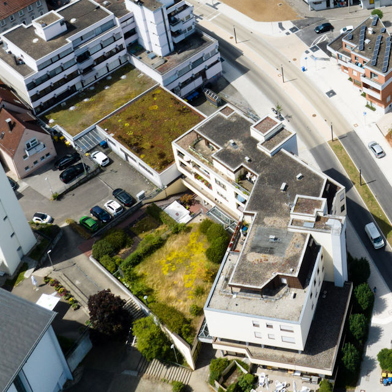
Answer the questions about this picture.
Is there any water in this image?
No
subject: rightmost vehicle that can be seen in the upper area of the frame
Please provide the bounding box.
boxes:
[369,141,384,159]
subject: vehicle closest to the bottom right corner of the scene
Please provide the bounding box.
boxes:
[366,220,384,251]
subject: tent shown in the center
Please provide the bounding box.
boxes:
[164,201,193,230]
